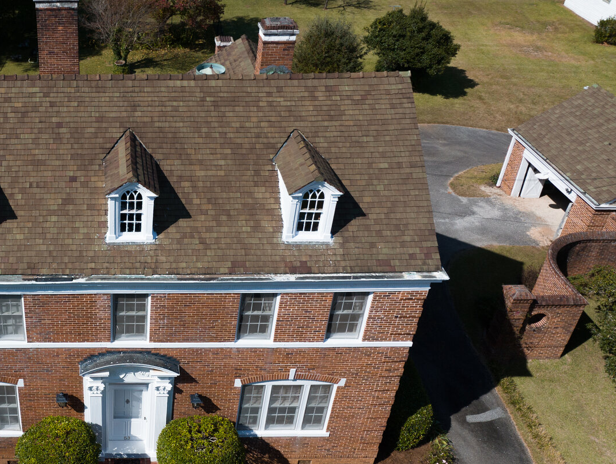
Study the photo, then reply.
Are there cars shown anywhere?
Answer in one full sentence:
No, this view has no car in it.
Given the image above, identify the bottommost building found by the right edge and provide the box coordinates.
[495,83,616,240]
